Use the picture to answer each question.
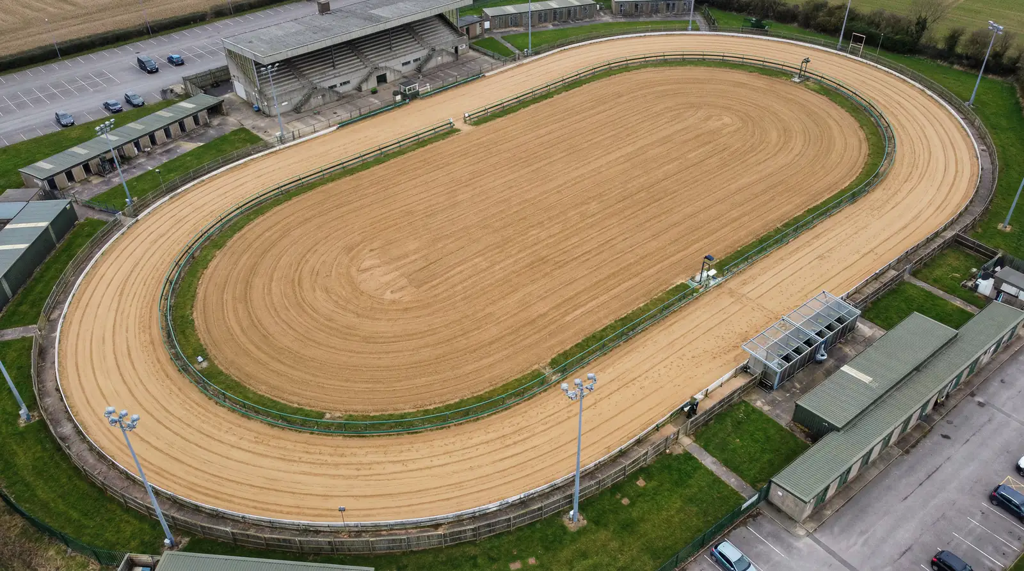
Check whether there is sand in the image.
Yes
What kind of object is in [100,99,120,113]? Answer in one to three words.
car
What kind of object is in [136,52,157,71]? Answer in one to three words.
vehicle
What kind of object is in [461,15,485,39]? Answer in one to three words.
shed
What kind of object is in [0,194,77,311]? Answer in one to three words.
shed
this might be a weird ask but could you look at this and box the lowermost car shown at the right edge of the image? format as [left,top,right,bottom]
[928,546,976,571]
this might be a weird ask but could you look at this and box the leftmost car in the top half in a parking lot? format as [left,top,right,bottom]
[53,110,72,127]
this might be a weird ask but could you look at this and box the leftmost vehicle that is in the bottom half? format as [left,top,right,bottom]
[715,539,765,571]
